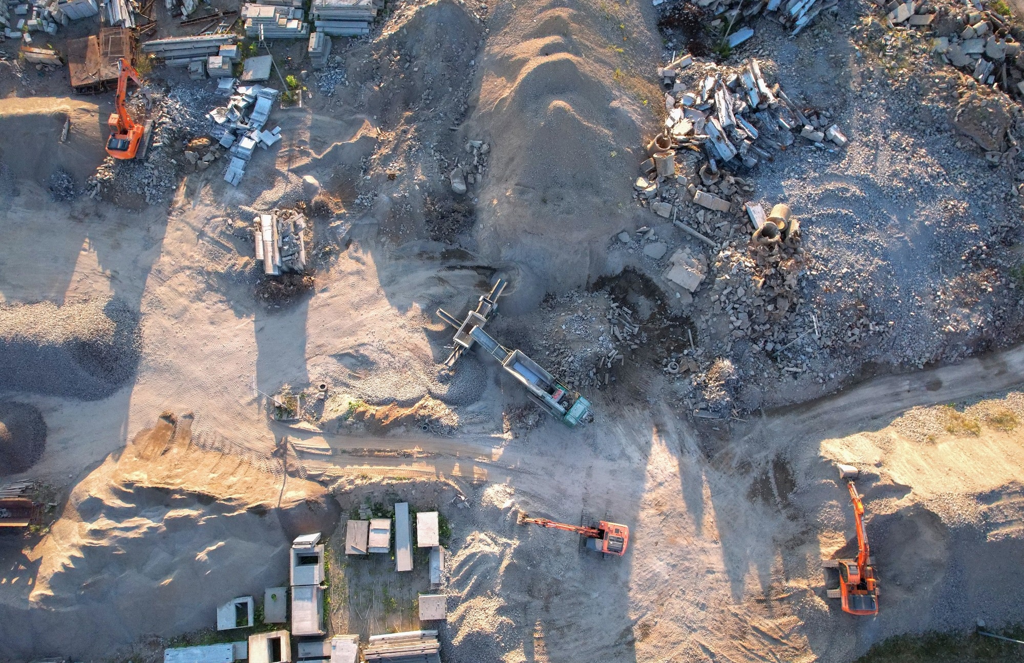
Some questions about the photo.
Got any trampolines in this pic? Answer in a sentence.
No, the frame has no trampoline in it.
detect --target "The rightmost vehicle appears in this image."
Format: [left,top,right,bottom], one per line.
[821,473,883,612]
